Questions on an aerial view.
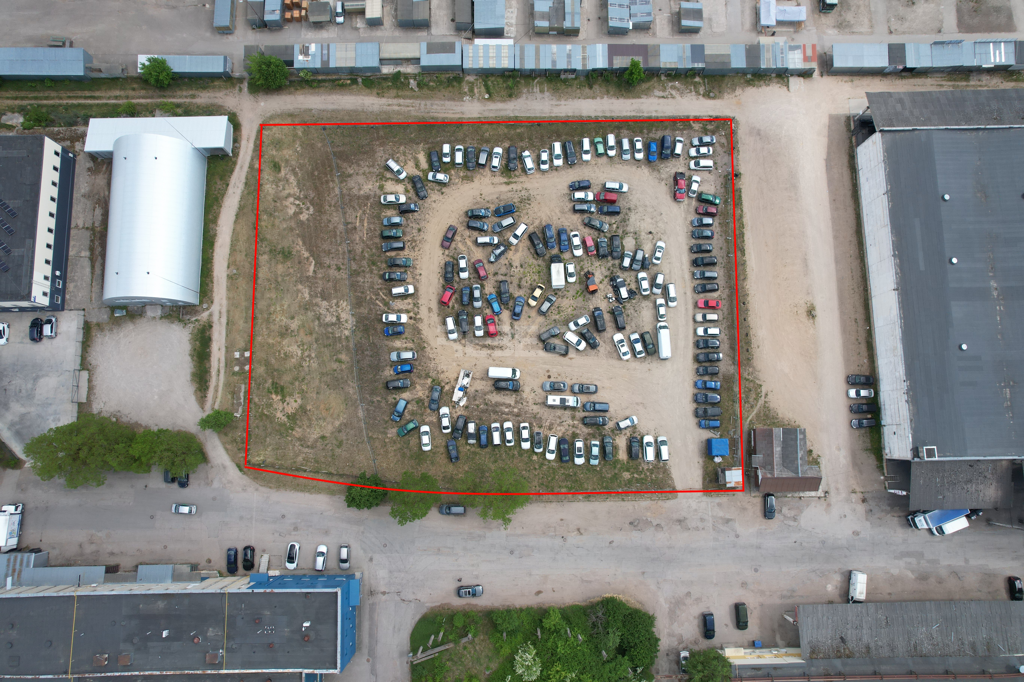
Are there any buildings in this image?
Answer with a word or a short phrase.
Yes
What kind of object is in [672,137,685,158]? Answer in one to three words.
vehicle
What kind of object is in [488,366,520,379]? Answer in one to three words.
vehicle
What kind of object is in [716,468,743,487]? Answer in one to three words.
shed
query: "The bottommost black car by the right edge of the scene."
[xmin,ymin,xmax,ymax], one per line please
[1008,577,1022,601]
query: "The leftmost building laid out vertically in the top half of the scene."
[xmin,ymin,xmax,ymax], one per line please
[0,134,76,310]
